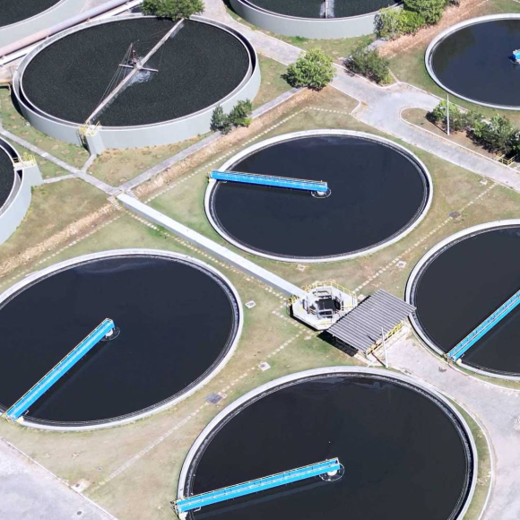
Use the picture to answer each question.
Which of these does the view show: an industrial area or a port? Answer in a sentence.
The area seen from above is an industrial area.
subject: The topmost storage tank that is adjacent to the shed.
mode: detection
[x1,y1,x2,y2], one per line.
[203,129,433,263]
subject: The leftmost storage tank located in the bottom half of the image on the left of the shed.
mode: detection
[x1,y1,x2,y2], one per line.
[0,250,241,430]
